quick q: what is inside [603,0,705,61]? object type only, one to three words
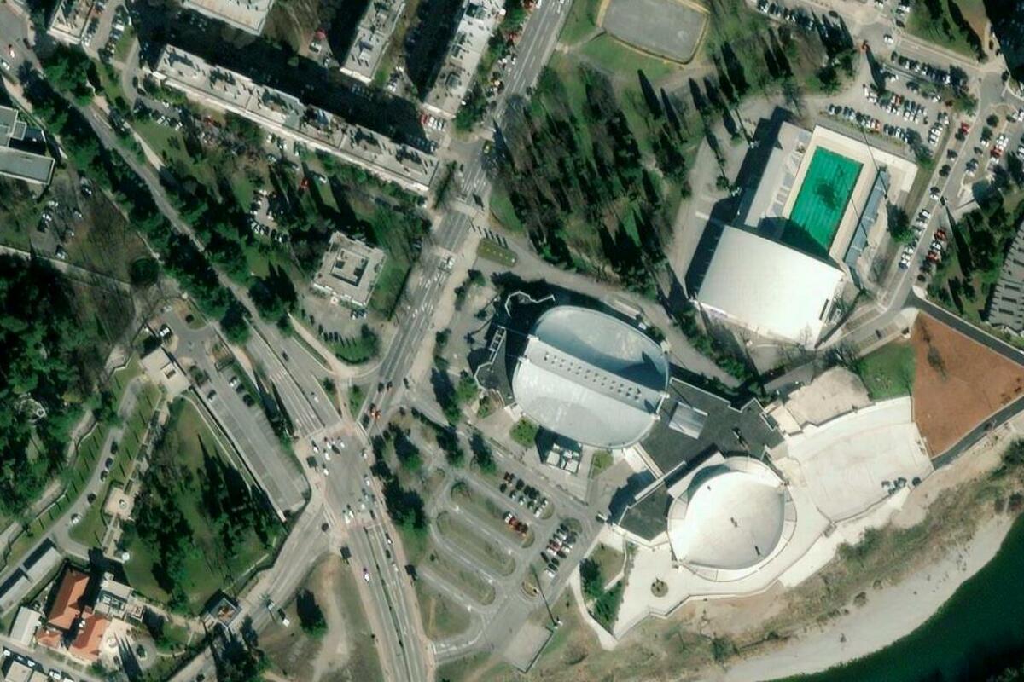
sports court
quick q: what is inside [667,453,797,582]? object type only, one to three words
building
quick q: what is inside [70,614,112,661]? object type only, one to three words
house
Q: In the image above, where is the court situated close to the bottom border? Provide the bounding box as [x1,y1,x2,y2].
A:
[512,625,552,671]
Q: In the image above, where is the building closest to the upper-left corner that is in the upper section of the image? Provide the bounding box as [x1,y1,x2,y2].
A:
[49,0,99,47]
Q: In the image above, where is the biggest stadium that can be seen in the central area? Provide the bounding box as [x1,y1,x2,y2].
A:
[512,305,670,452]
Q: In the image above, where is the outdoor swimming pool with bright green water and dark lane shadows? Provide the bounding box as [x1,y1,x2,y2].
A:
[779,125,917,271]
